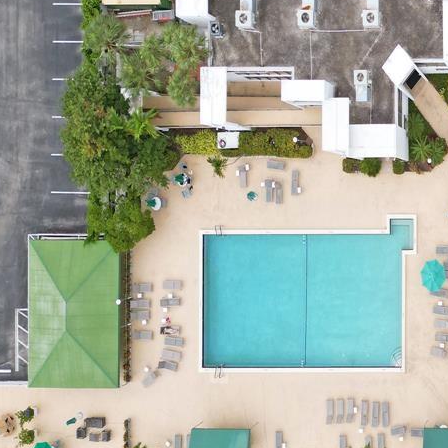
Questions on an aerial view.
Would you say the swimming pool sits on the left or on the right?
right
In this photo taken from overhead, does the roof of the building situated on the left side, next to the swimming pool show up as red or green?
green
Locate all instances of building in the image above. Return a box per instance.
[176,0,448,160]
[28,231,132,388]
